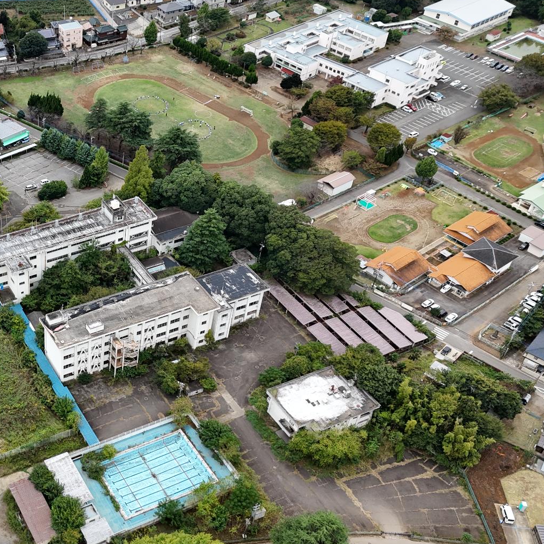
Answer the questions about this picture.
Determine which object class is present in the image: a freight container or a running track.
running track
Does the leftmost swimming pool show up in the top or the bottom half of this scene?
bottom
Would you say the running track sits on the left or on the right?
left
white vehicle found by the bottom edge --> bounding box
[501,502,516,523]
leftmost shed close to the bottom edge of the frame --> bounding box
[9,477,60,544]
